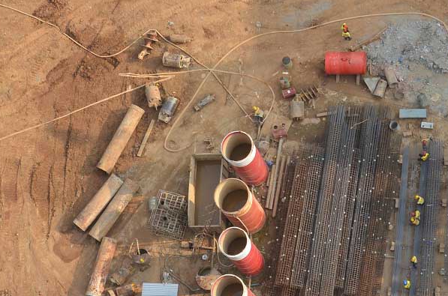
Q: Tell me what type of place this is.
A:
industrial area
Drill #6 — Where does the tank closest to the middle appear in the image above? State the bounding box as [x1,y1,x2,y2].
[223,130,276,188]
